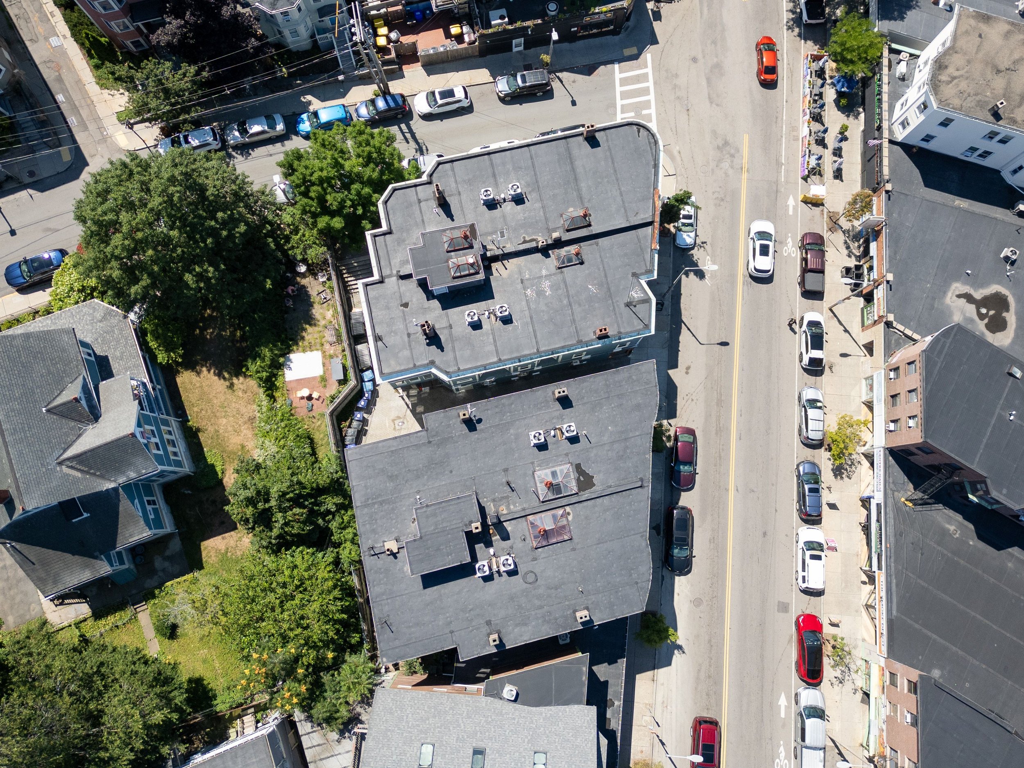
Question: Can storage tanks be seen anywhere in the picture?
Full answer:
No, there's no storage tank here.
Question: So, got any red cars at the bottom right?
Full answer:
Yes, a red car can be seen at the bottom right.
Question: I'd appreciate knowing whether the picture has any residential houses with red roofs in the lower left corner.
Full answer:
No, looking in the lower left corner, there is no residential house with a red roof.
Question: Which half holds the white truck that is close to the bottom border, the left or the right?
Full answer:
The white truck that is close to the bottom border appears in the right half of the scene.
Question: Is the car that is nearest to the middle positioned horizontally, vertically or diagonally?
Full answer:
From this overhead view, the car that is nearest to the middle appears to run vertically.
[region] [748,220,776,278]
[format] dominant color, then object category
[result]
white car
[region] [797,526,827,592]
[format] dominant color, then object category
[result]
white car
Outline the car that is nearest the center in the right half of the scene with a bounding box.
[671,427,699,489]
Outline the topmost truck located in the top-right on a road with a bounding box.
[801,0,825,25]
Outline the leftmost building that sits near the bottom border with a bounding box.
[174,713,300,768]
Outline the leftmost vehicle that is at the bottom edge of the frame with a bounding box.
[693,716,720,768]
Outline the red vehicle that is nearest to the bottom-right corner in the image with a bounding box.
[796,613,826,684]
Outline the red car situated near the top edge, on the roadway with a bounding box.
[755,36,779,85]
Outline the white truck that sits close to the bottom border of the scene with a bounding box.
[795,686,828,768]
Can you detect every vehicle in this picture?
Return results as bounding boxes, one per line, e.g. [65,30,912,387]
[225,117,287,150]
[296,106,352,136]
[800,232,828,293]
[666,505,695,573]
[158,128,221,159]
[671,427,699,489]
[414,88,470,118]
[693,716,720,768]
[755,36,779,85]
[495,69,551,99]
[3,249,69,286]
[402,146,445,174]
[801,0,825,25]
[796,461,825,519]
[796,613,826,684]
[534,122,585,138]
[675,195,699,249]
[798,387,827,444]
[800,312,828,368]
[795,686,828,768]
[748,220,776,278]
[354,93,410,124]
[797,526,827,592]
